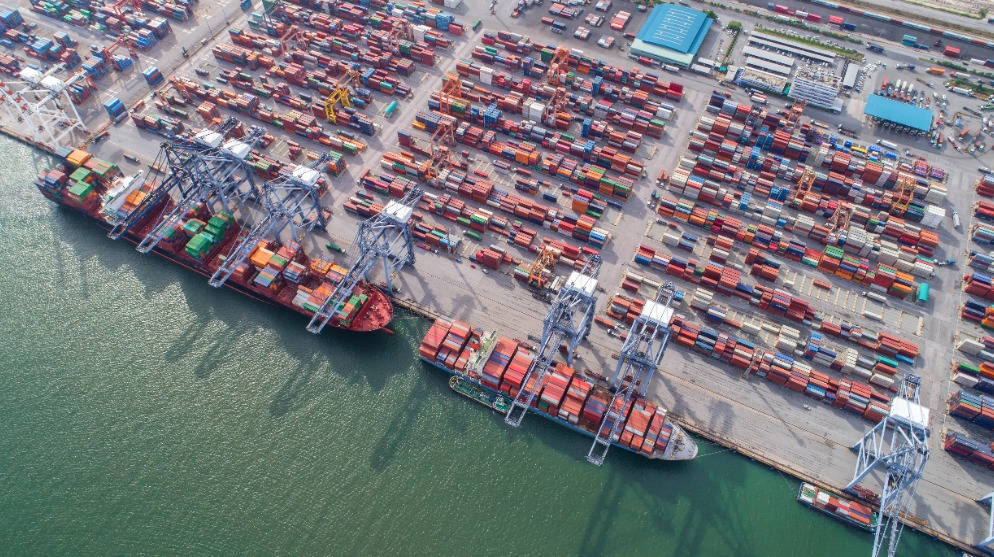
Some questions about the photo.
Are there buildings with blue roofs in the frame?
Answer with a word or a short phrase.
Yes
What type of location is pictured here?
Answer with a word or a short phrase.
port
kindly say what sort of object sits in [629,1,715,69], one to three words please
building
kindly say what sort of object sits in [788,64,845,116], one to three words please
building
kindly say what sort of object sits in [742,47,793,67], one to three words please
shed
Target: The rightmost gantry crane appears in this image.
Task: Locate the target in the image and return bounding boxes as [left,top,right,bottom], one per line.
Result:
[967,489,994,555]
